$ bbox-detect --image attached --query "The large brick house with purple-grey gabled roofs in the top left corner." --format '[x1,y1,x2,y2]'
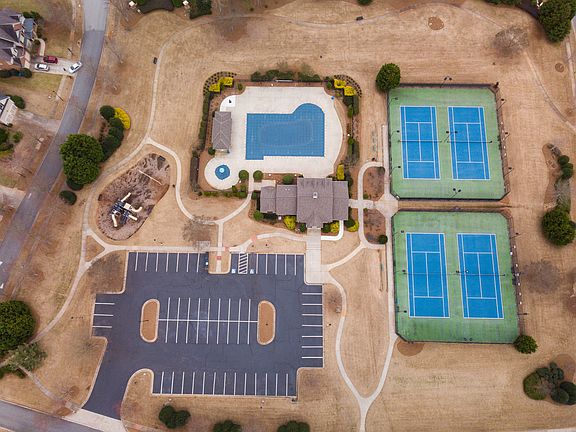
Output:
[0,2,38,69]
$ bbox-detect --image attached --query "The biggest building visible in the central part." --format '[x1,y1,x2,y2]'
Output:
[259,178,349,228]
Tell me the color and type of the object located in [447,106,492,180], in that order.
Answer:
blue tennis court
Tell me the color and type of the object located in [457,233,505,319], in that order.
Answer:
blue tennis court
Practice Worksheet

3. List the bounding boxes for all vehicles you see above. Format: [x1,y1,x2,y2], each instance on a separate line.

[67,61,83,73]
[34,63,49,70]
[43,55,58,63]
